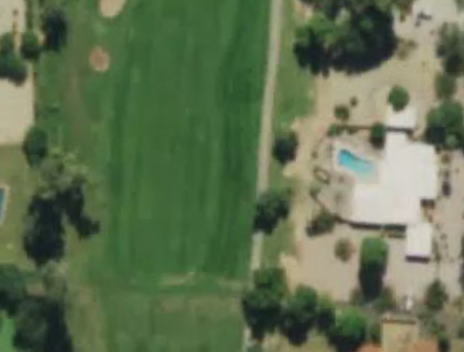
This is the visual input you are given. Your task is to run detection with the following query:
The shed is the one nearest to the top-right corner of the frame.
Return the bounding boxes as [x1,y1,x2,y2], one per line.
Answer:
[387,107,418,130]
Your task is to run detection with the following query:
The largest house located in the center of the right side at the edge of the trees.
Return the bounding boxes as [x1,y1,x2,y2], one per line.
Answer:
[351,134,438,257]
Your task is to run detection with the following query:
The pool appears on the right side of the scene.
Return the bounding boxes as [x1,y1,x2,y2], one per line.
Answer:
[337,149,375,178]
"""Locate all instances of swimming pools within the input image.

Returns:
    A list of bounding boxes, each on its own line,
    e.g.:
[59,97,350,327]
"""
[0,185,7,222]
[337,149,375,178]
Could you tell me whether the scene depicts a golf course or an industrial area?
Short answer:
golf course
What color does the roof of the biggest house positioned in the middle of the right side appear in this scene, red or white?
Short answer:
white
